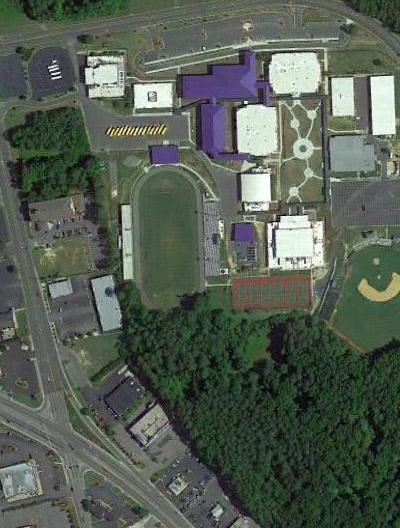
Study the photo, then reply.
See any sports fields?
Yes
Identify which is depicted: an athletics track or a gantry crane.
athletics track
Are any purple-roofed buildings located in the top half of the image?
Yes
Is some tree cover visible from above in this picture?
Yes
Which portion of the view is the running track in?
center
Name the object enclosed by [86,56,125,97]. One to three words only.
building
